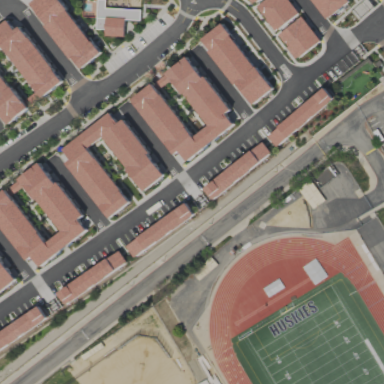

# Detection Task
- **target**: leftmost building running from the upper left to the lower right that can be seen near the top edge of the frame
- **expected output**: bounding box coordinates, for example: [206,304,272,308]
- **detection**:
[30,0,100,68]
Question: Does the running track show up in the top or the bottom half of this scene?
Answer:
bottom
